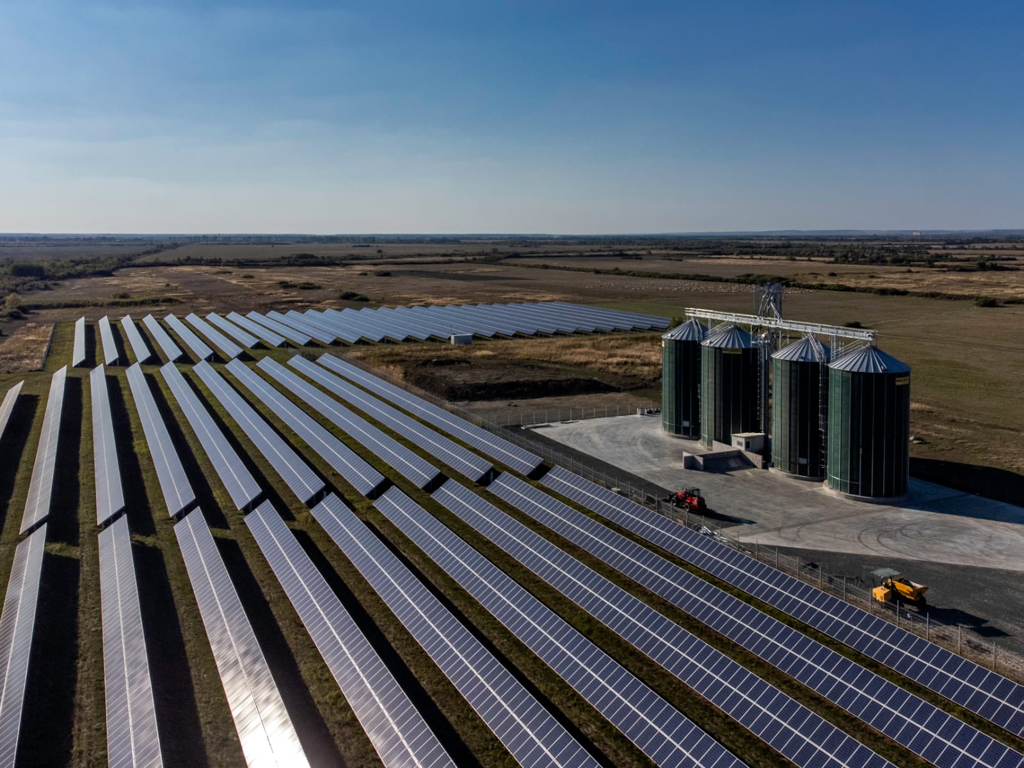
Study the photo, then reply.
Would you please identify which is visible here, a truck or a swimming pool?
truck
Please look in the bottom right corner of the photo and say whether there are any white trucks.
No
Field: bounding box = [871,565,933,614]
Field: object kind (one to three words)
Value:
truck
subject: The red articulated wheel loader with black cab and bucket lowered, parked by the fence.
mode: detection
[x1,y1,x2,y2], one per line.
[661,483,710,513]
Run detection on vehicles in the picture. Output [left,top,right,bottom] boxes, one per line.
[661,483,710,513]
[871,565,933,614]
